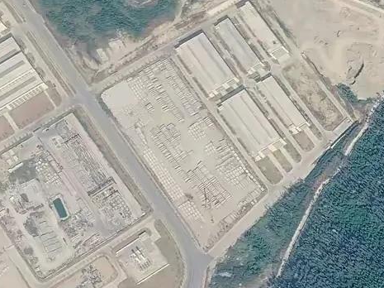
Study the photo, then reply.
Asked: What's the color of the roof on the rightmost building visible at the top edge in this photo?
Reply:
white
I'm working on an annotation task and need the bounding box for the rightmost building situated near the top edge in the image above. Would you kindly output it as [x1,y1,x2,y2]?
[239,2,289,66]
